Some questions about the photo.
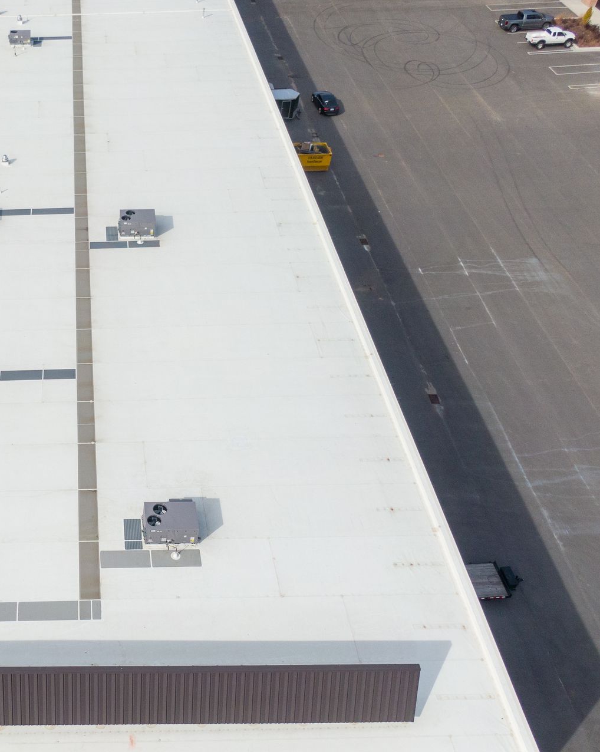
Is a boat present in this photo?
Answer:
No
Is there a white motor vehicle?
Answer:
Yes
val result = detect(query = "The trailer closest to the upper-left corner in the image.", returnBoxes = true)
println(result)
[269,82,310,113]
